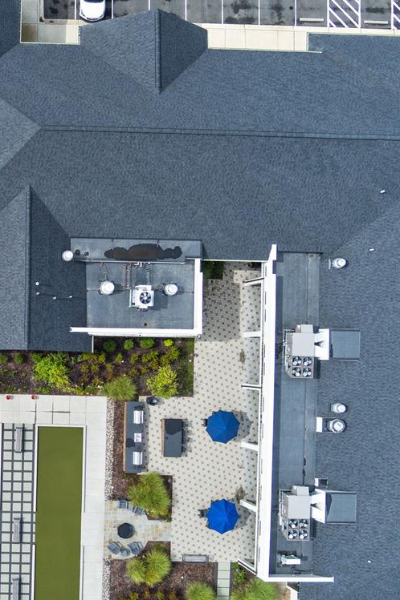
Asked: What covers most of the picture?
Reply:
buildings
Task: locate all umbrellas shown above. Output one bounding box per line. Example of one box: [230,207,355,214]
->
[203,498,237,532]
[203,409,238,442]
